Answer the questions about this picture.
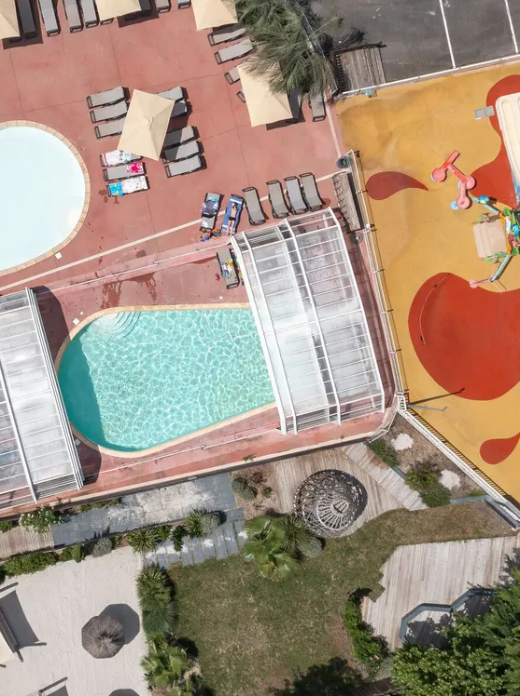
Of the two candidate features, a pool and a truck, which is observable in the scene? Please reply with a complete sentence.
Of the two, only a pool appears.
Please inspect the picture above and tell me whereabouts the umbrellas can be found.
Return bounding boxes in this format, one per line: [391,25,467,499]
[117,88,176,161]
[98,0,145,22]
[191,0,238,31]
[237,57,292,128]
[0,0,21,39]
[82,615,127,659]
